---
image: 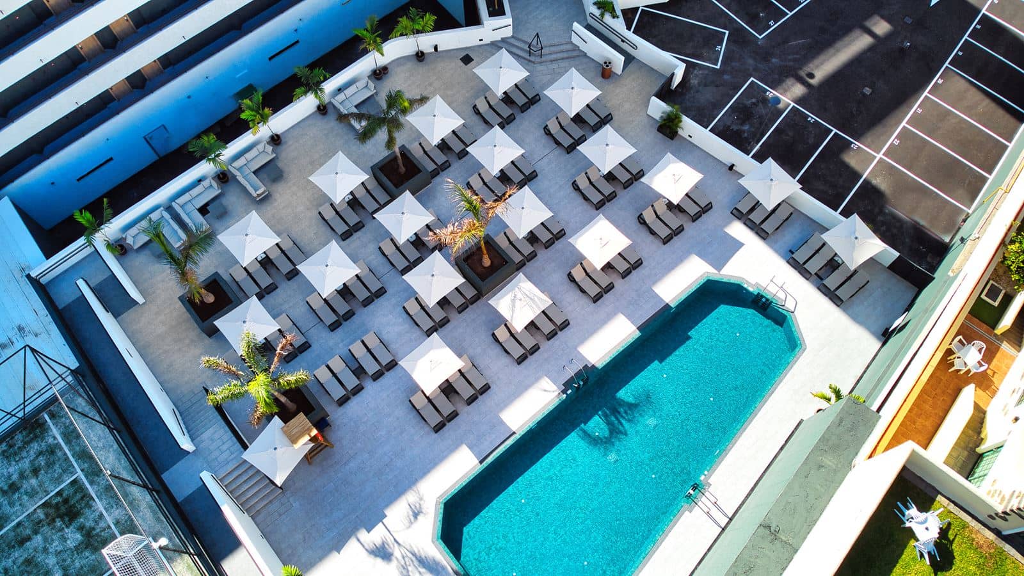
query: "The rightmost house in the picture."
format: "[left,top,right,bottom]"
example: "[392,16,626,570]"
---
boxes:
[968,416,1024,527]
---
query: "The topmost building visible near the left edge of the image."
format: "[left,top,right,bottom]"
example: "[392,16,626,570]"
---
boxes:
[0,0,401,235]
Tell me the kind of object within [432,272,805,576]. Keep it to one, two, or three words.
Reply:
swimming pool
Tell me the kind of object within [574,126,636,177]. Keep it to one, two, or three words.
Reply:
umbrella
